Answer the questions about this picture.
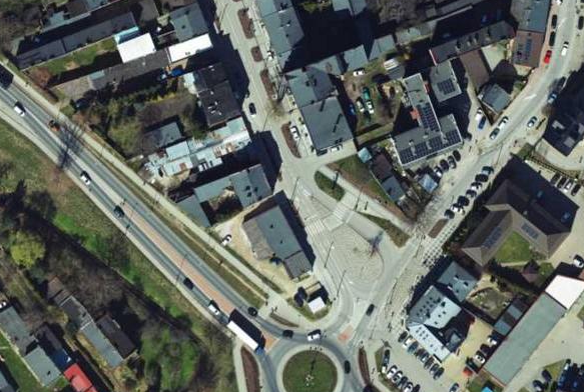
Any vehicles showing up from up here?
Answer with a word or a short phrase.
Yes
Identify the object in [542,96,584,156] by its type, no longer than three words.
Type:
house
